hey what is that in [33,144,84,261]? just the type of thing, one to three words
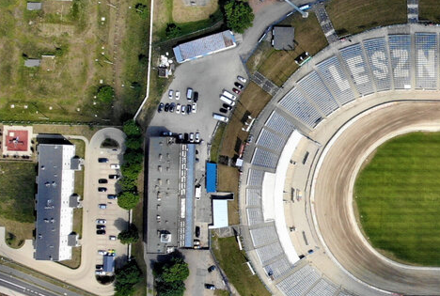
building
